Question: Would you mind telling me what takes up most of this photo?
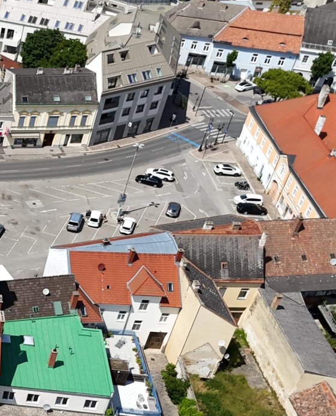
buildings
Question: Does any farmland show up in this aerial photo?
No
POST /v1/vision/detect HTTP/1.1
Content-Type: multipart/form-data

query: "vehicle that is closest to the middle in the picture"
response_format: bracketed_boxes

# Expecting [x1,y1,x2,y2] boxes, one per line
[167,206,182,219]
